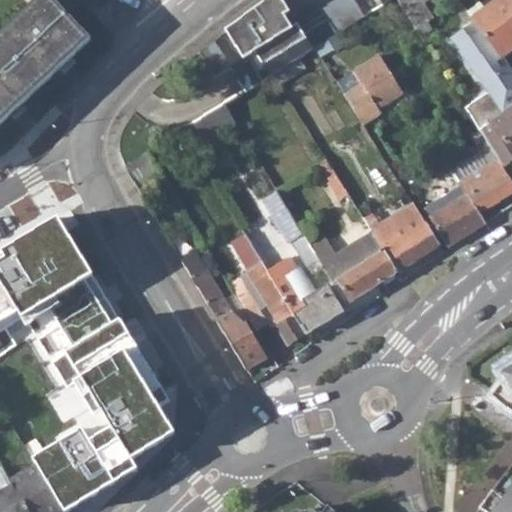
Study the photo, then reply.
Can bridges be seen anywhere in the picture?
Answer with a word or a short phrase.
No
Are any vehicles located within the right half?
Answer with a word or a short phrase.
Yes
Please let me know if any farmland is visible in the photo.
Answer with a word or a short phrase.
No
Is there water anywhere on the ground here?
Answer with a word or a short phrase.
No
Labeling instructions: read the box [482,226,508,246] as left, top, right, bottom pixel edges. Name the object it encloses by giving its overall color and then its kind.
white vehicle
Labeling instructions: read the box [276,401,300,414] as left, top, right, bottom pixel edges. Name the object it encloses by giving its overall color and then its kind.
white vehicle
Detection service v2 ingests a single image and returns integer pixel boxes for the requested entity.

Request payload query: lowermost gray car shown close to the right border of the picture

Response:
[474,305,496,323]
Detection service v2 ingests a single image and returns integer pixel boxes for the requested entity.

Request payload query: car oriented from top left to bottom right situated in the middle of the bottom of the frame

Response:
[252,404,270,424]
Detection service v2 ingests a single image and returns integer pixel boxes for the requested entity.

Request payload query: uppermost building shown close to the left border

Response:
[0,0,92,129]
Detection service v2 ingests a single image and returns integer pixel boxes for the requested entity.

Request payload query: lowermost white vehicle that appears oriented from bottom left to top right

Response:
[368,410,396,432]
